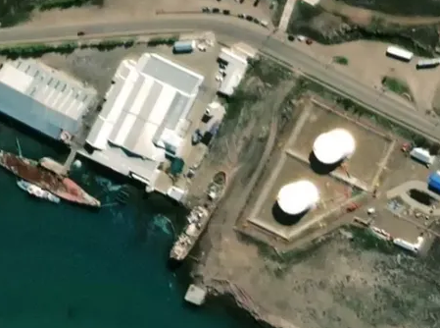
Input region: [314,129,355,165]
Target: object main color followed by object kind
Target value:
white storage tank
